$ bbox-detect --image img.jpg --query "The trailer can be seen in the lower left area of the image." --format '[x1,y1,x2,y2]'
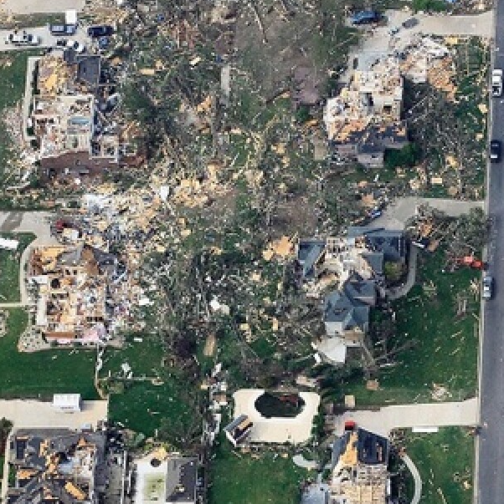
[49,389,79,412]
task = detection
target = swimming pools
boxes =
[142,472,166,503]
[253,392,305,419]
